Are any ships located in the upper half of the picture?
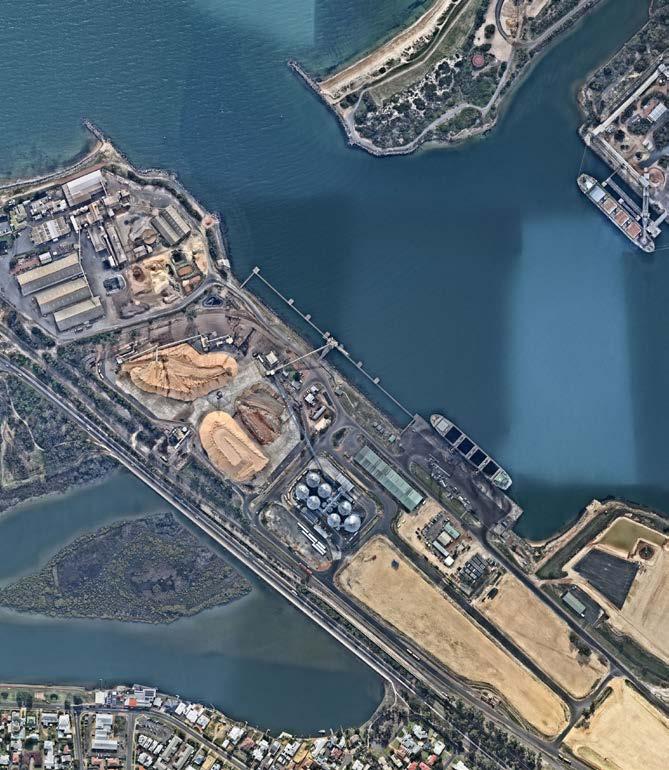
Yes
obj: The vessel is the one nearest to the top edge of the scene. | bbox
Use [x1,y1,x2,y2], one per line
[576,173,654,251]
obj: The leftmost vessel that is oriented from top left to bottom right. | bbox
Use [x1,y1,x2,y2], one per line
[431,416,515,490]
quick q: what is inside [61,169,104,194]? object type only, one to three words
building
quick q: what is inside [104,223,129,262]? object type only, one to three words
shed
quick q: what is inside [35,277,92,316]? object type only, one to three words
shed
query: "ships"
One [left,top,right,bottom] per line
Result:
[431,416,515,490]
[576,173,654,251]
